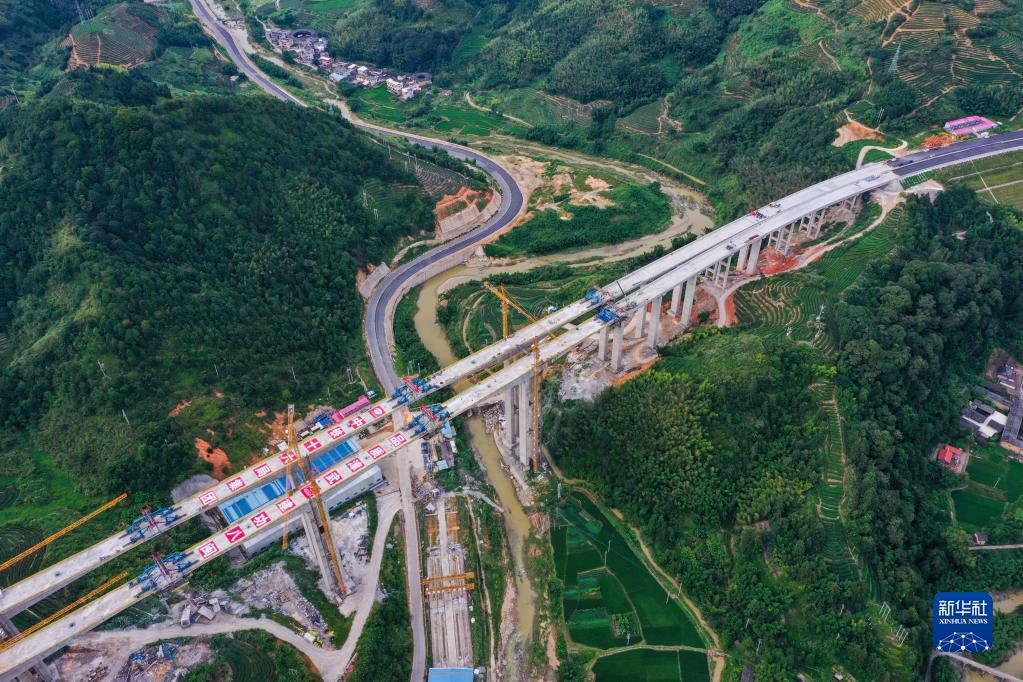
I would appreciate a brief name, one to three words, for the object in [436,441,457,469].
shed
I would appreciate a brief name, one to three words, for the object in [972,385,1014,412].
house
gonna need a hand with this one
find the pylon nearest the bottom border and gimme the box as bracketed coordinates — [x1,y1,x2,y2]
[889,39,906,72]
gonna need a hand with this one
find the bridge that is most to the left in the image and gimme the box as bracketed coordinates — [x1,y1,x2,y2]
[0,170,911,682]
